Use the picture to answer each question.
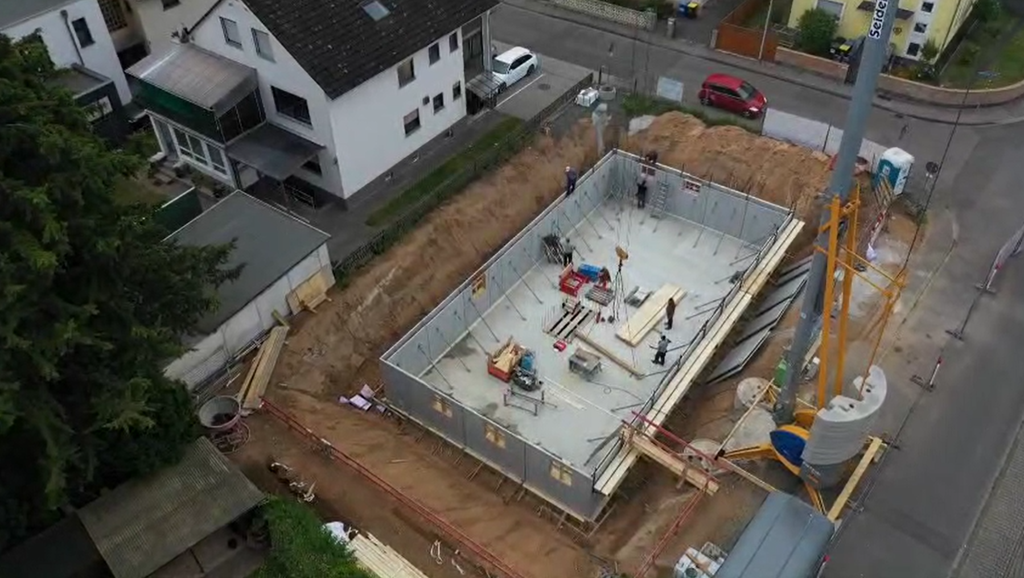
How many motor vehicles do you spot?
2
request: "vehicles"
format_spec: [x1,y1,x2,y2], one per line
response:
[705,76,772,116]
[485,49,534,94]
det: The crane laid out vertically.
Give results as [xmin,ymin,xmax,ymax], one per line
[710,0,979,517]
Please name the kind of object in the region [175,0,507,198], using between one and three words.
house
